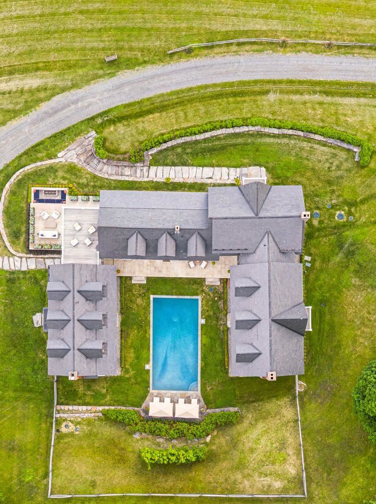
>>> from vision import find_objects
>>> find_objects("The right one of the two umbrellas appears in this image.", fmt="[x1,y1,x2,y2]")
[175,404,199,419]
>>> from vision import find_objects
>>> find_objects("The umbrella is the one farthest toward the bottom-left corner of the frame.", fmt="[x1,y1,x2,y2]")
[149,402,173,417]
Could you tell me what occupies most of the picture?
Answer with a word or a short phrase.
grass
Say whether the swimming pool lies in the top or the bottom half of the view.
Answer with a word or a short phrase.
bottom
